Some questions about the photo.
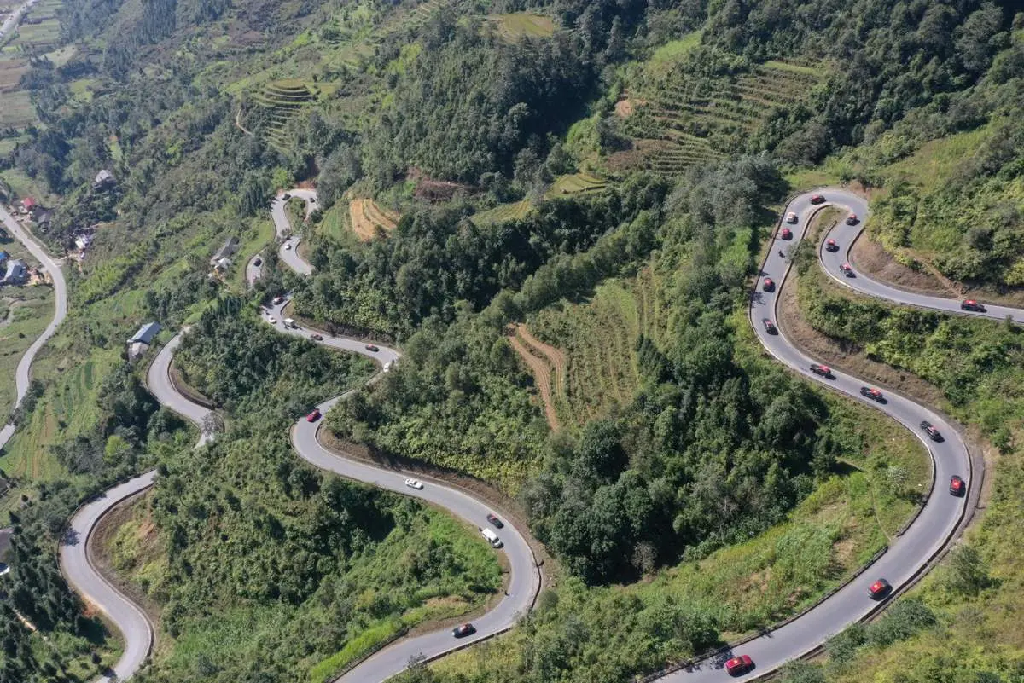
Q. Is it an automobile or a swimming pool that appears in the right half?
automobile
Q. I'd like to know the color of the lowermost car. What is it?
red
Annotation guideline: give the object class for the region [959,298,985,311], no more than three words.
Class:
vehicle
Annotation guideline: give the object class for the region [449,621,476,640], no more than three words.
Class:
car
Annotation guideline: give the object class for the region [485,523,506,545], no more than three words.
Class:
vehicle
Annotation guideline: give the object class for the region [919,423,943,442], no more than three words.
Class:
car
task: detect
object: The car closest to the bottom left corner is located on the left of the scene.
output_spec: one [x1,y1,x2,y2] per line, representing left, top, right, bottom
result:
[306,408,321,422]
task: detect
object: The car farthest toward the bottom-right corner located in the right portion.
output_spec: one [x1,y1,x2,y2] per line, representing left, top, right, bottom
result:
[861,579,891,602]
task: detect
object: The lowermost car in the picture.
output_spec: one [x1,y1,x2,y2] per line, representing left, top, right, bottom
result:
[720,656,750,678]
